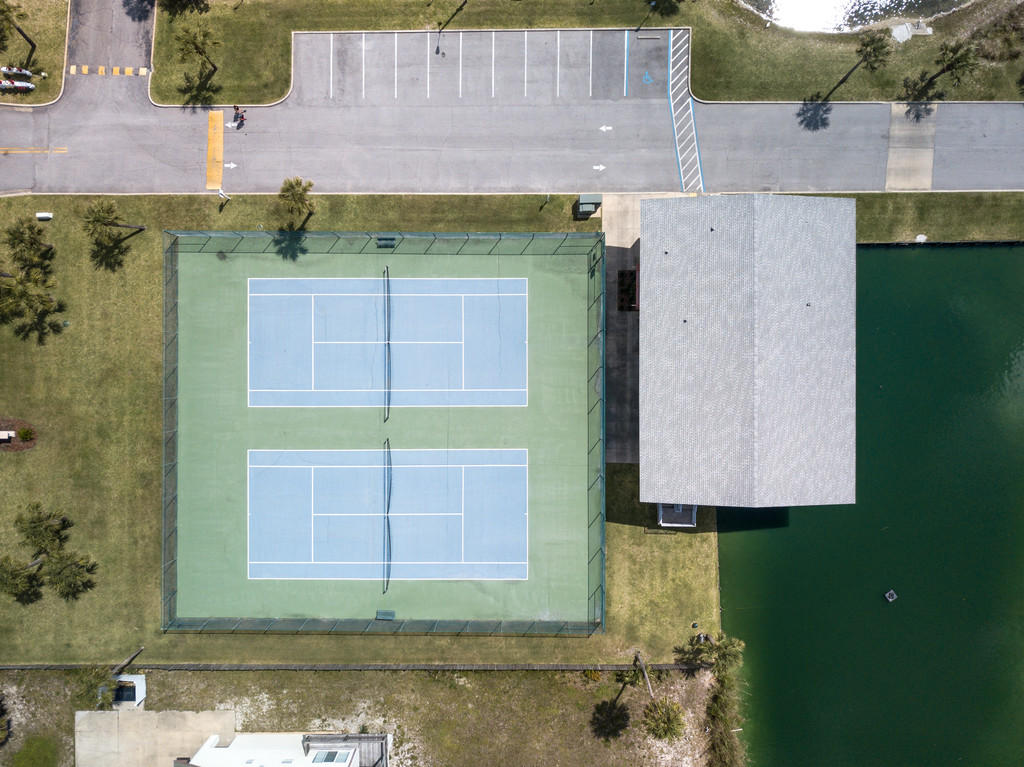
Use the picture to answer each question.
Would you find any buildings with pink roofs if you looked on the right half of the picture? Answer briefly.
No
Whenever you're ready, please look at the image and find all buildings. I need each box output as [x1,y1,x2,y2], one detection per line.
[639,194,857,526]
[182,736,362,767]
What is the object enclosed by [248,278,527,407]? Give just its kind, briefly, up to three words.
tennis court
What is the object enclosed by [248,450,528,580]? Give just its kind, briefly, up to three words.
tennis court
